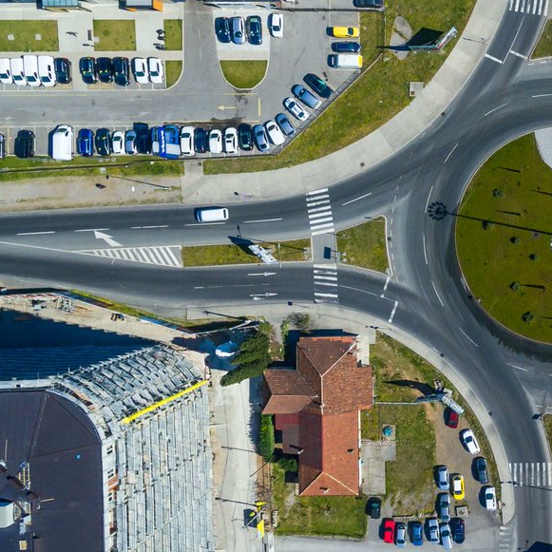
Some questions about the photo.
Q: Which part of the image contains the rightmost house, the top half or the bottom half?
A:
bottom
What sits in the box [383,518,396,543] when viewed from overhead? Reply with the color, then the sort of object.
red vehicle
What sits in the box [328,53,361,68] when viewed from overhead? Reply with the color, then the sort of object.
white vehicle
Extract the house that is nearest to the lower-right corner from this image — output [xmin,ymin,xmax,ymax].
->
[262,339,377,496]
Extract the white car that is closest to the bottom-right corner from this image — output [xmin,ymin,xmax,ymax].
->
[484,483,497,511]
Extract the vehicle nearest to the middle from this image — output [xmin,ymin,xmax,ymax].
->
[197,207,229,221]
